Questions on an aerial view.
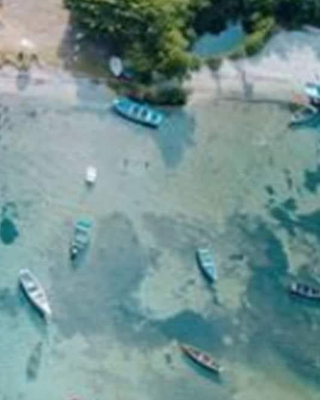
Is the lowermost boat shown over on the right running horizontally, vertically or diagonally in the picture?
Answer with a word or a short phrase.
diagonally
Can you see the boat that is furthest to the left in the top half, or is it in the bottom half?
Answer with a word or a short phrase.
bottom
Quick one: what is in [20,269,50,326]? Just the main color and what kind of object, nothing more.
white boat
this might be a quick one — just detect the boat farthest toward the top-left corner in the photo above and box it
[109,58,122,78]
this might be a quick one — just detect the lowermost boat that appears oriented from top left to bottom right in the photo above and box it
[178,343,230,383]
